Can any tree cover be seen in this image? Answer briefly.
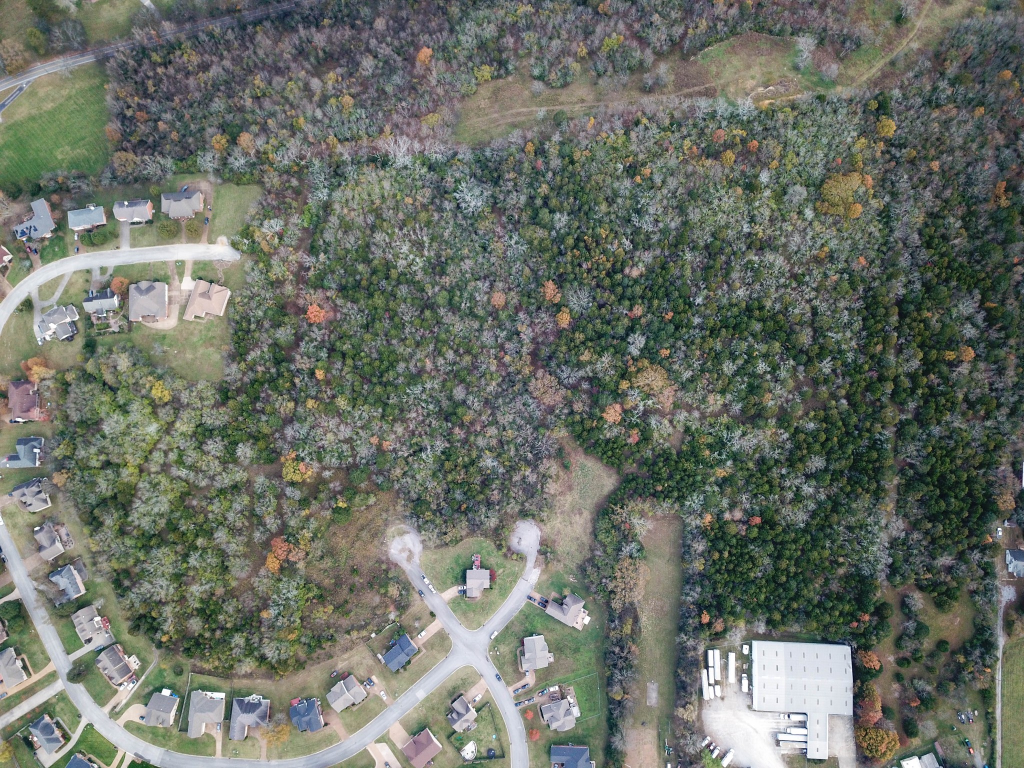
Yes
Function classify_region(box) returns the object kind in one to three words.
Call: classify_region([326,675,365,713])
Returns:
house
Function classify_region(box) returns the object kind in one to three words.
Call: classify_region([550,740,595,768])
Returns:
house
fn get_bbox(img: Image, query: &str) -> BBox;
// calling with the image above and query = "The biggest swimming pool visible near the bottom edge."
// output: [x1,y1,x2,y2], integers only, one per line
[460,740,477,760]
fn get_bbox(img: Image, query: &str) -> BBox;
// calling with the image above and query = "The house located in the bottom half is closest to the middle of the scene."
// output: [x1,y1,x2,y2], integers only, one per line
[466,554,490,597]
